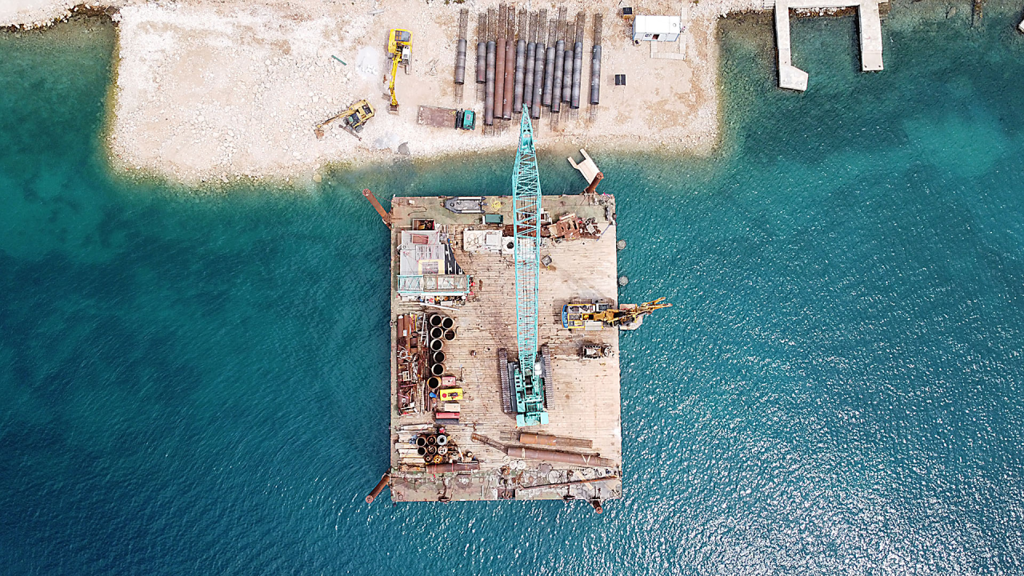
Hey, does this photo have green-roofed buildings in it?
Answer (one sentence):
No, the scene contains no green-roofed building.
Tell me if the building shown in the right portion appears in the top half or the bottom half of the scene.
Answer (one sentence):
Seen from above, the building shown in the right portion lies in the top half of the view.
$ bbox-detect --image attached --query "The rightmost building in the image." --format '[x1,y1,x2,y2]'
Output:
[632,15,681,42]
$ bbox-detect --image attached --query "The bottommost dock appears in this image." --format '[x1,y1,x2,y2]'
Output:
[568,149,597,185]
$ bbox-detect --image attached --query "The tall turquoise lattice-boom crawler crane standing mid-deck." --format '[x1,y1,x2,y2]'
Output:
[499,103,555,428]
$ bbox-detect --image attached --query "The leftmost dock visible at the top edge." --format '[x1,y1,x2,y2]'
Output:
[771,0,884,93]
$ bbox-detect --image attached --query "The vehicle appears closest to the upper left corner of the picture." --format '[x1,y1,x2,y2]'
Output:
[320,101,375,139]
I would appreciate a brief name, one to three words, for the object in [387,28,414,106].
work vehicle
